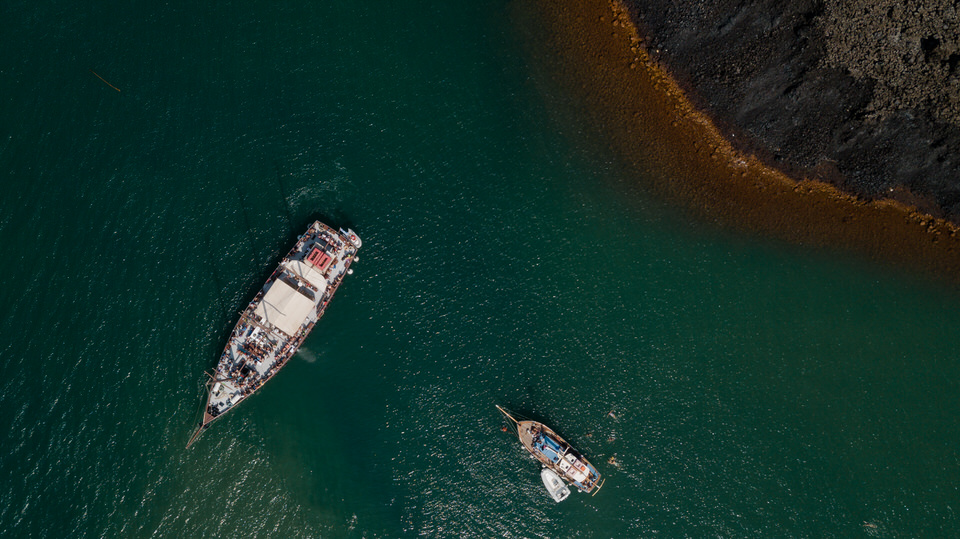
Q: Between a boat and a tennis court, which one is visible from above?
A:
boat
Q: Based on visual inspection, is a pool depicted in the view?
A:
No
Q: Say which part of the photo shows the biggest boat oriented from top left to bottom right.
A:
bottom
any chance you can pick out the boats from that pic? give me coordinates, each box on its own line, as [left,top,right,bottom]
[183,220,358,449]
[541,466,571,502]
[343,229,363,247]
[495,405,606,496]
